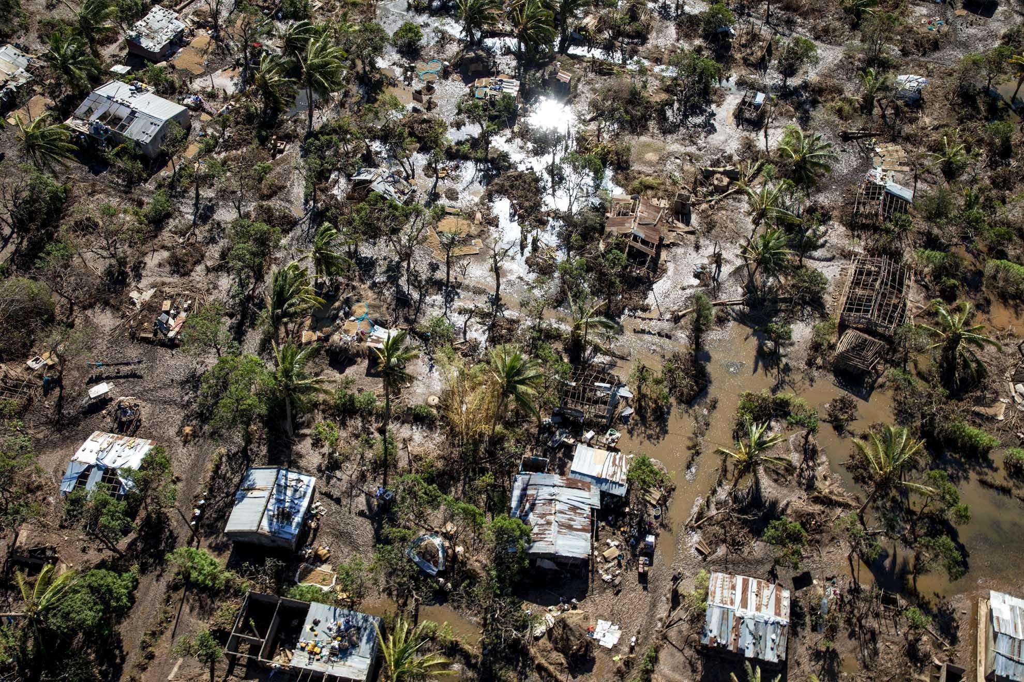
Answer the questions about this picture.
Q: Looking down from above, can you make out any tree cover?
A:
Yes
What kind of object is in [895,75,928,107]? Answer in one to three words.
shed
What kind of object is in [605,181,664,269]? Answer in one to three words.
house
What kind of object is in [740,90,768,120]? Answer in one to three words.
shed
